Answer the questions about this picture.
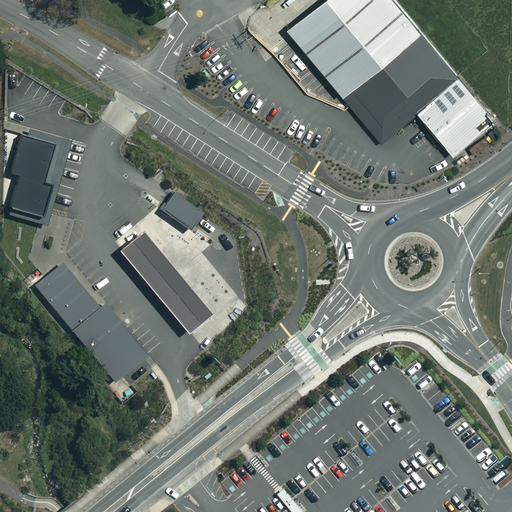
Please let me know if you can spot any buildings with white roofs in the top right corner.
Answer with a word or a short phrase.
Yes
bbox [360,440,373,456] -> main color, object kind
blue vehicle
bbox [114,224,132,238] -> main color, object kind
white vehicle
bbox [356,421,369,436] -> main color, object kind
white vehicle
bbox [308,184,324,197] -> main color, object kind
gray vehicle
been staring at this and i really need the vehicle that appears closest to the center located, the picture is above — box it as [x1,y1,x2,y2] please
[218,234,232,250]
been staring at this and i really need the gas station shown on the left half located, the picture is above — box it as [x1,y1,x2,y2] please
[120,232,213,334]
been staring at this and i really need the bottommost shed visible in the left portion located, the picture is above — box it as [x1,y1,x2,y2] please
[74,304,149,382]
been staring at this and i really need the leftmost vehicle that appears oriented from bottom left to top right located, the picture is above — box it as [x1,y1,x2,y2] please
[94,276,111,291]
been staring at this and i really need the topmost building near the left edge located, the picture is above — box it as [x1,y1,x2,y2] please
[10,130,71,226]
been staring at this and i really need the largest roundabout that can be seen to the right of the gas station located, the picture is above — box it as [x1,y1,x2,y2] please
[356,204,472,320]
